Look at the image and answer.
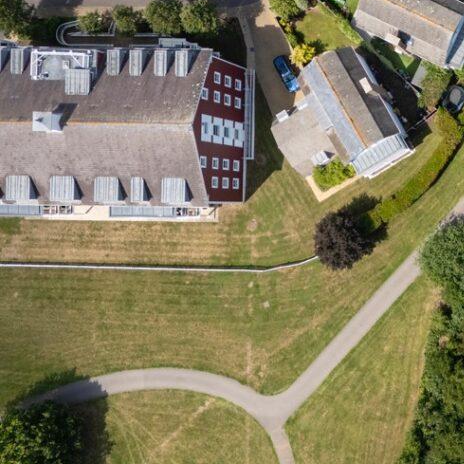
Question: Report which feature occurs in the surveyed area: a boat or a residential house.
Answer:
residential house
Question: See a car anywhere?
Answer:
Yes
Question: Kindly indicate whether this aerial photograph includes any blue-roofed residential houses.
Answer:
No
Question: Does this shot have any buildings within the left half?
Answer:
Yes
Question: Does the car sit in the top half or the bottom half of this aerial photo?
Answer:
top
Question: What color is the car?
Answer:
blue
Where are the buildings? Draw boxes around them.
[270,45,417,182]
[0,45,254,219]
[356,0,464,72]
